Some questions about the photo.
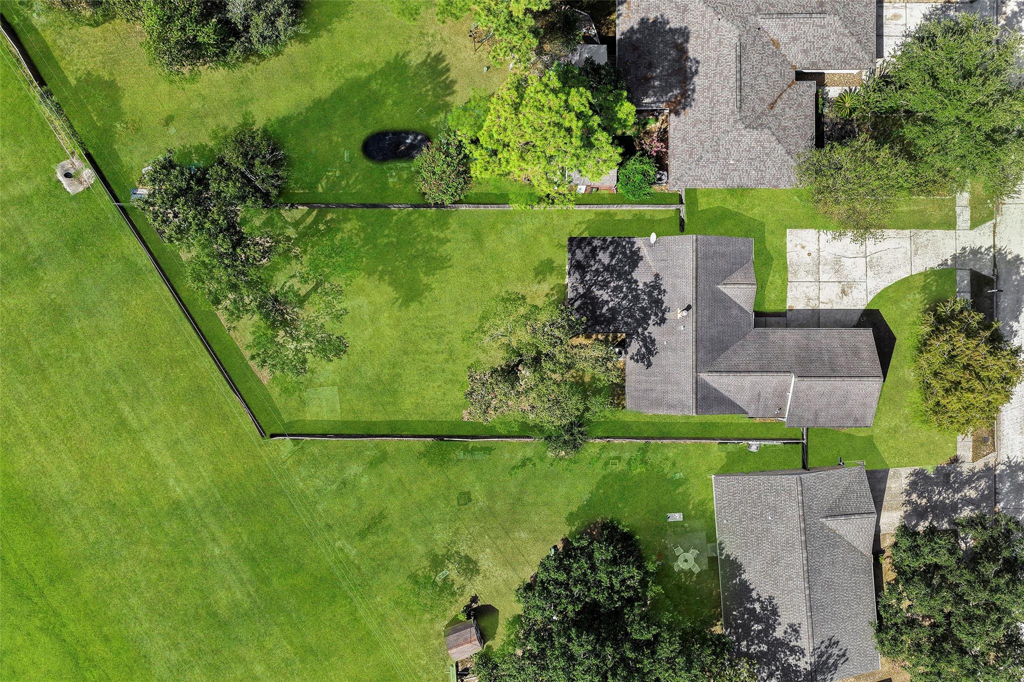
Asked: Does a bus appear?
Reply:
No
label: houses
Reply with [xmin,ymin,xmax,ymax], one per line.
[614,0,878,192]
[567,233,884,429]
[707,462,882,682]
